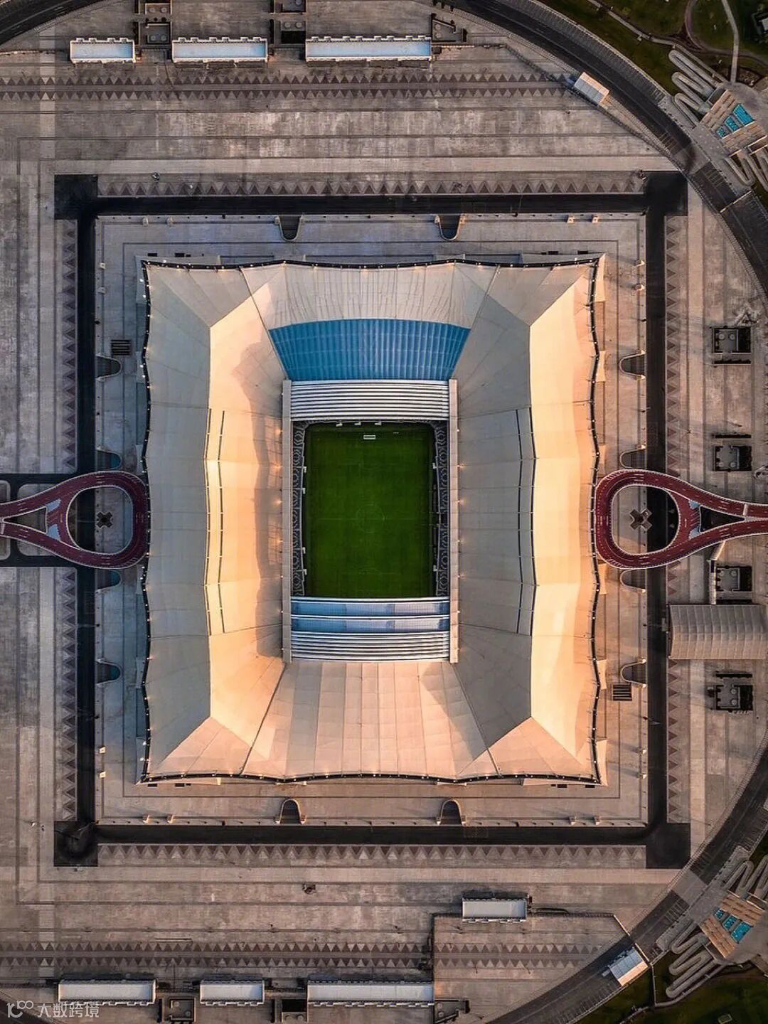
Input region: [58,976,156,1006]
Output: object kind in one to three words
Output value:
building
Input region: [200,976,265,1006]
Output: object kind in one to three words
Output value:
building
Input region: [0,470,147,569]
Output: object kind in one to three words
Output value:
bridge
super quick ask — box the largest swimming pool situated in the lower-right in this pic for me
[729,920,754,944]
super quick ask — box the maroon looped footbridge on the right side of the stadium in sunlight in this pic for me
[595,469,768,570]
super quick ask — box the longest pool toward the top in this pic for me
[732,104,755,126]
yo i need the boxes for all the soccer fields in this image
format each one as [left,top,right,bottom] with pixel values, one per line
[301,423,440,598]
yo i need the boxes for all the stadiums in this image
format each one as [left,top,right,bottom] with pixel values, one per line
[137,255,607,785]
